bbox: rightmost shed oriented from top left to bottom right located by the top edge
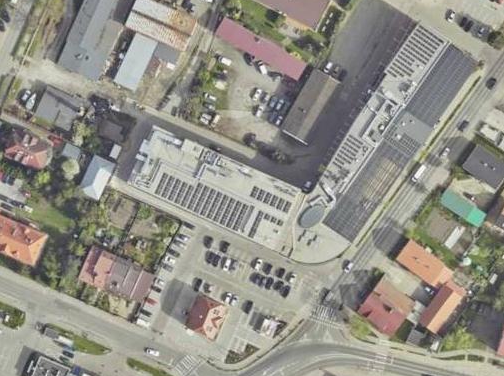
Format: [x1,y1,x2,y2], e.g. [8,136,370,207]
[215,17,307,81]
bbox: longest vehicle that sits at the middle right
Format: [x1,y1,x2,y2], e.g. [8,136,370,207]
[412,162,427,183]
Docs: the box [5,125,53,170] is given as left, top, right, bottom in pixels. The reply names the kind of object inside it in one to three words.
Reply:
house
